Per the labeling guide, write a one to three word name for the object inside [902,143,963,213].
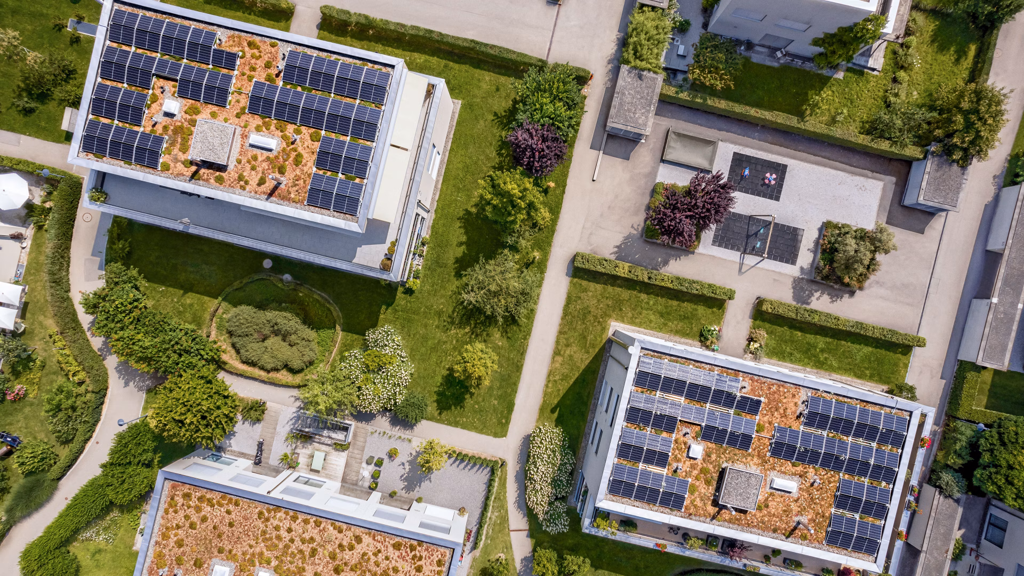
building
